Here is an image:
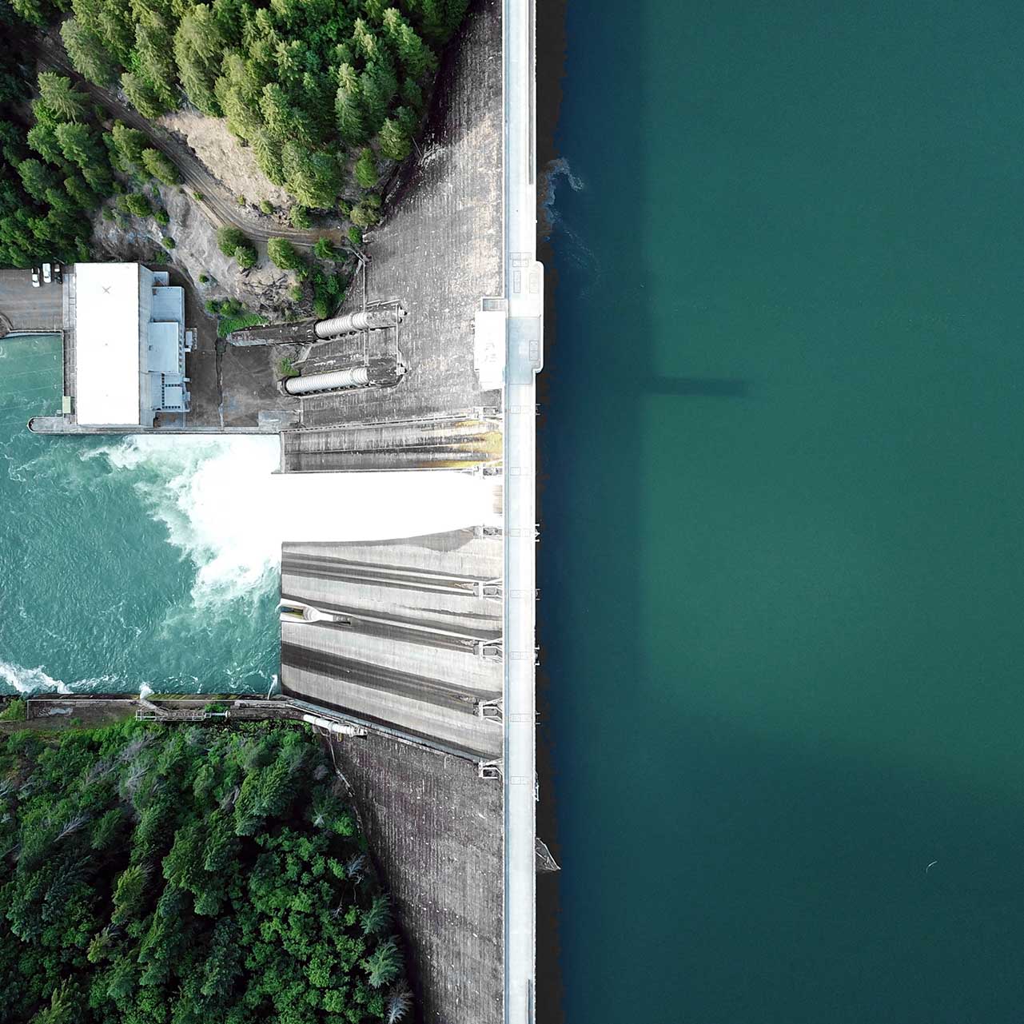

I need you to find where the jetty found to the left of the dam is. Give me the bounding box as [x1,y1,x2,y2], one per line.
[28,416,62,432]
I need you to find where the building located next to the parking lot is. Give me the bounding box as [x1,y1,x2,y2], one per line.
[63,264,197,429]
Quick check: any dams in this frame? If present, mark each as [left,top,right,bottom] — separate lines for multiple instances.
[270,0,544,1024]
